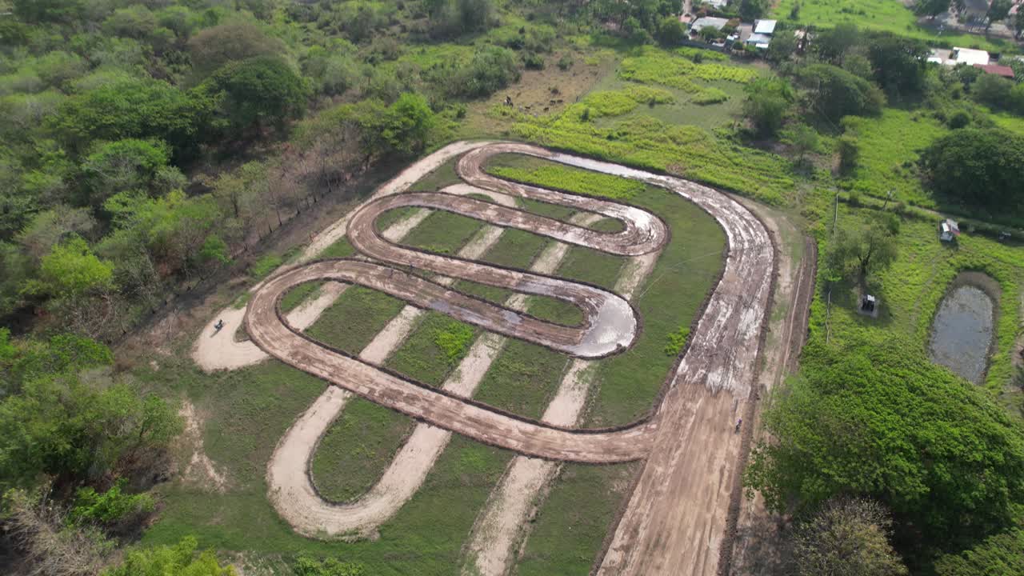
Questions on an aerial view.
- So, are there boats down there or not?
No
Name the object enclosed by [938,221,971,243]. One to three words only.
shed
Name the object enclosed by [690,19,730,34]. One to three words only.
house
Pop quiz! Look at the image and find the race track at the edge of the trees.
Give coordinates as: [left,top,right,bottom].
[246,143,775,576]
